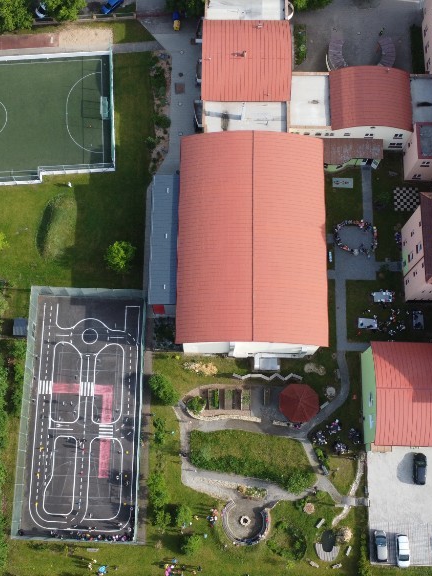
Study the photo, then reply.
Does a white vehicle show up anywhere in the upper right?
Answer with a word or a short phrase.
No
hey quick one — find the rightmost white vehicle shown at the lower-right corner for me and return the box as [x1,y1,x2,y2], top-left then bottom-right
[393,534,412,569]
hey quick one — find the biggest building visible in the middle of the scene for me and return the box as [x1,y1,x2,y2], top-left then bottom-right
[175,128,329,374]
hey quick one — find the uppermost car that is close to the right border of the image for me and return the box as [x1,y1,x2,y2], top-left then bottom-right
[410,453,428,485]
